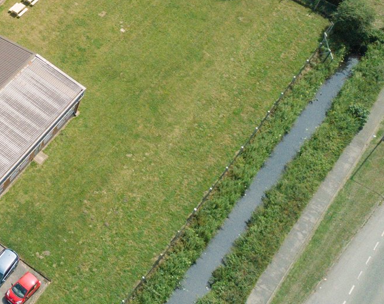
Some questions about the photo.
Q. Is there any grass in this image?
Yes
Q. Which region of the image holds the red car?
bottom left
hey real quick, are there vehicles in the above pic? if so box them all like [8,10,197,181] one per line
[0,248,21,291]
[6,269,43,304]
